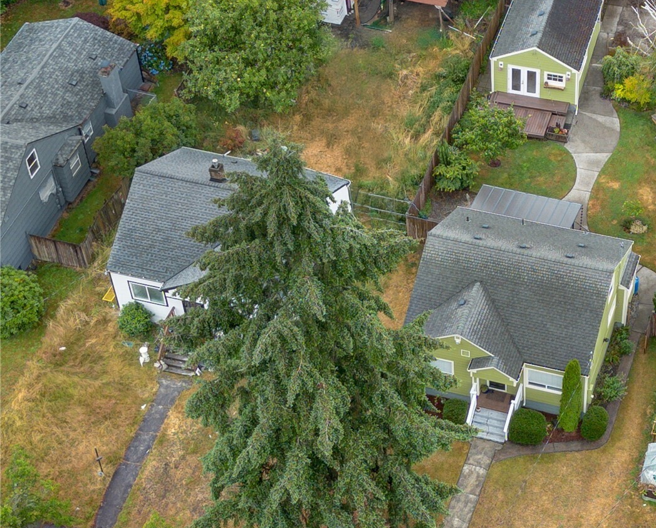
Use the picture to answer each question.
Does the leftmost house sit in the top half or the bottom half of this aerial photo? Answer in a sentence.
The leftmost house sits in the top half of the picture.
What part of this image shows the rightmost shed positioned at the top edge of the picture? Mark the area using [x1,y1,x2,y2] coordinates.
[489,0,609,115]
